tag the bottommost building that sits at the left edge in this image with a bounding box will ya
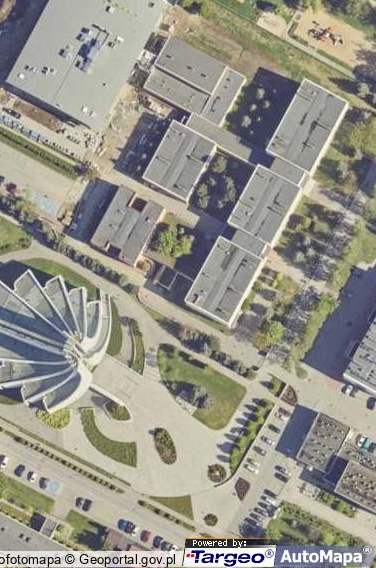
[0,513,118,568]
